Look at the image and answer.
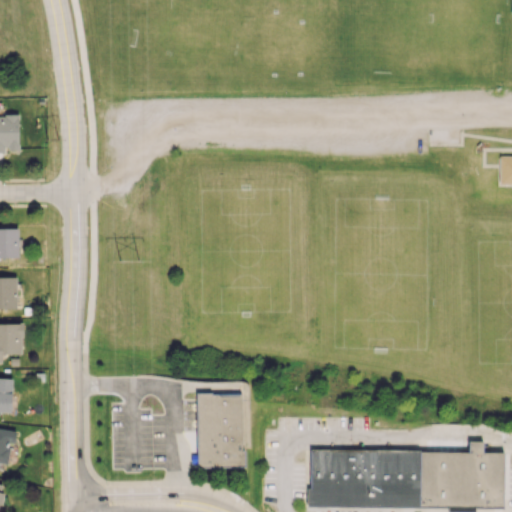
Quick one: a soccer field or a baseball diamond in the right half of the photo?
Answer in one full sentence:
There is a soccer field in the right half of the photo.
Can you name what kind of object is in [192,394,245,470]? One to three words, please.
building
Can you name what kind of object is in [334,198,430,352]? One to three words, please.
soccer field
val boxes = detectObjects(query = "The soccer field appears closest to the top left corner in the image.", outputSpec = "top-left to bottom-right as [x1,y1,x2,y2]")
[201,188,292,314]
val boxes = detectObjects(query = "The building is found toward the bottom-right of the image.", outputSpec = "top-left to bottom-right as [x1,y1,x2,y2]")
[307,442,506,512]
